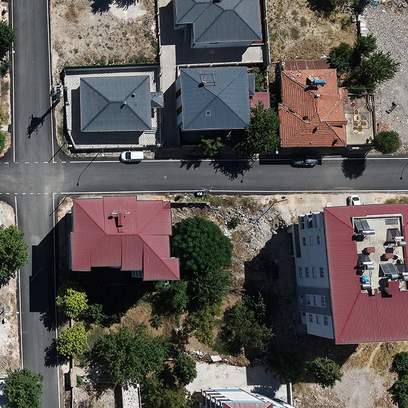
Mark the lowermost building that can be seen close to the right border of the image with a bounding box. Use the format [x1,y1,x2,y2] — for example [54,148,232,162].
[295,203,408,344]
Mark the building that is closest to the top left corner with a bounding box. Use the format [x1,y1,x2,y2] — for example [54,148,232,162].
[80,75,164,132]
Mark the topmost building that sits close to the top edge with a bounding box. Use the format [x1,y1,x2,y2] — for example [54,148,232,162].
[173,0,262,48]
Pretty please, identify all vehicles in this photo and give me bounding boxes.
[121,150,144,162]
[293,155,320,167]
[347,192,361,206]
